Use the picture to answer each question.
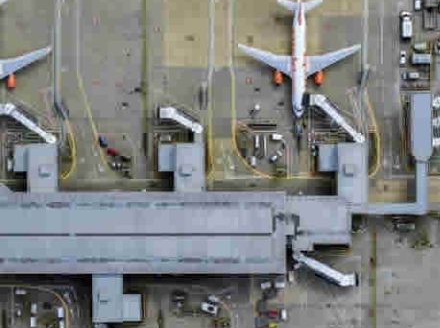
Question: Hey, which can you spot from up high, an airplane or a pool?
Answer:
airplane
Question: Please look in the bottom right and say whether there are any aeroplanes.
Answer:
No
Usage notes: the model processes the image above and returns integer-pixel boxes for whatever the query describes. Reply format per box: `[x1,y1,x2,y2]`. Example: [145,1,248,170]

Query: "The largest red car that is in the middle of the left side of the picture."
[103,146,119,158]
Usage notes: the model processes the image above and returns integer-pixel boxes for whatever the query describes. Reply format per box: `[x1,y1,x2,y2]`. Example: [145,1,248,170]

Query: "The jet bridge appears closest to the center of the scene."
[157,107,205,143]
